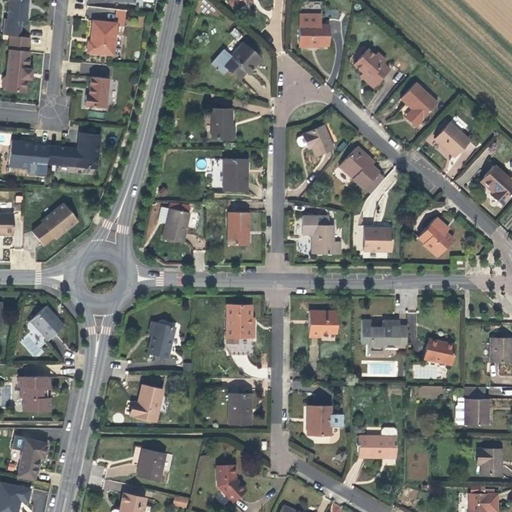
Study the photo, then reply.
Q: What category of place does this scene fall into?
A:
residential area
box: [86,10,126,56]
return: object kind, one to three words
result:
house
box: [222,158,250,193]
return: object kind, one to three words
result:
house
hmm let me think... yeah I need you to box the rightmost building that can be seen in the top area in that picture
[482,166,512,208]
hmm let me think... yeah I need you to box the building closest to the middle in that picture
[228,212,251,246]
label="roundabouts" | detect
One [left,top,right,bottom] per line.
[66,242,136,312]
